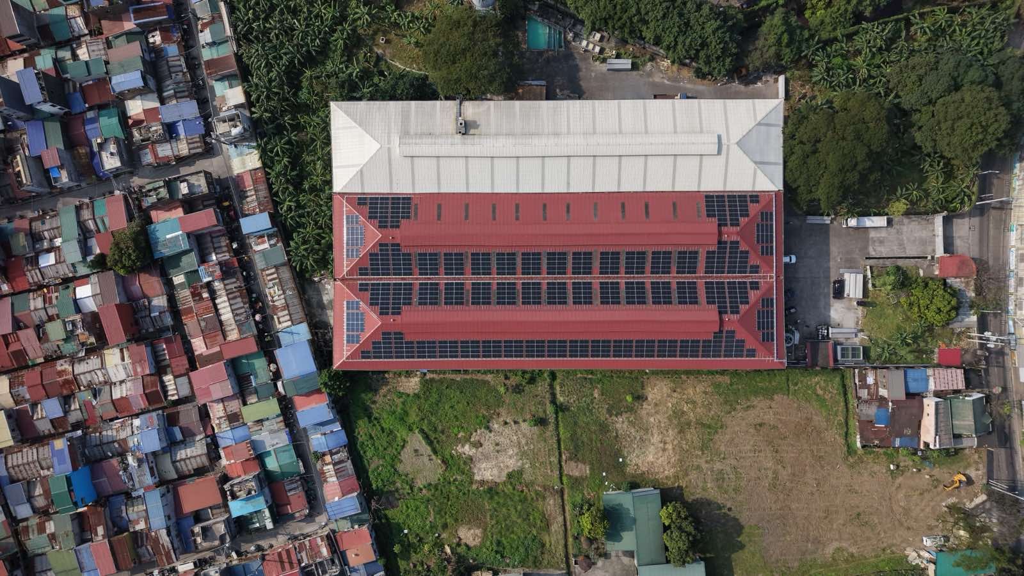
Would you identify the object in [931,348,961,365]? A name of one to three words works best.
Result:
building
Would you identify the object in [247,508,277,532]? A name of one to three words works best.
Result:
house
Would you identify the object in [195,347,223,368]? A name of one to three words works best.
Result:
house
